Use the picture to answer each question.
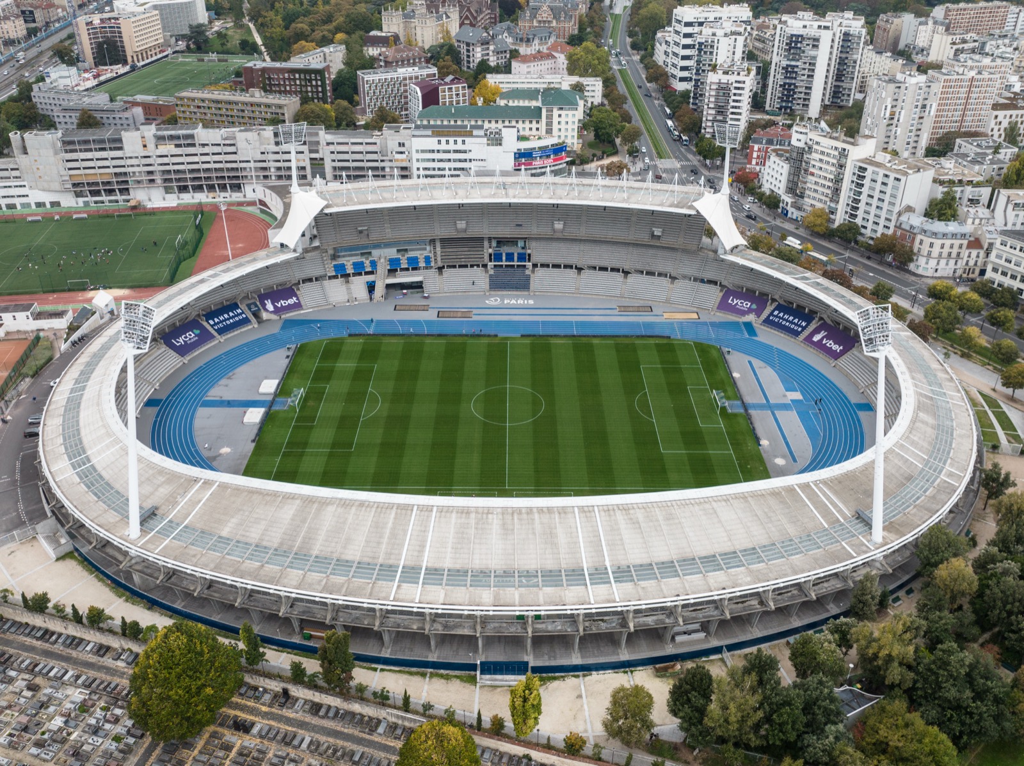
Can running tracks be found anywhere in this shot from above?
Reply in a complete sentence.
Yes, there's a running track here.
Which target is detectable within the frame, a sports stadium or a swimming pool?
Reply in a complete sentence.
It is a sports stadium that can be seen here.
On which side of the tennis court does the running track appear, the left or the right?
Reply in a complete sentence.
In the image, the running track sits on the right side of the tennis court.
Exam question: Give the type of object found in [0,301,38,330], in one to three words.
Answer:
building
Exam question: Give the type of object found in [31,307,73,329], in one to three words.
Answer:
building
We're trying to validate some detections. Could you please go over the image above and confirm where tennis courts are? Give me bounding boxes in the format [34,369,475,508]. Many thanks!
[0,339,31,382]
